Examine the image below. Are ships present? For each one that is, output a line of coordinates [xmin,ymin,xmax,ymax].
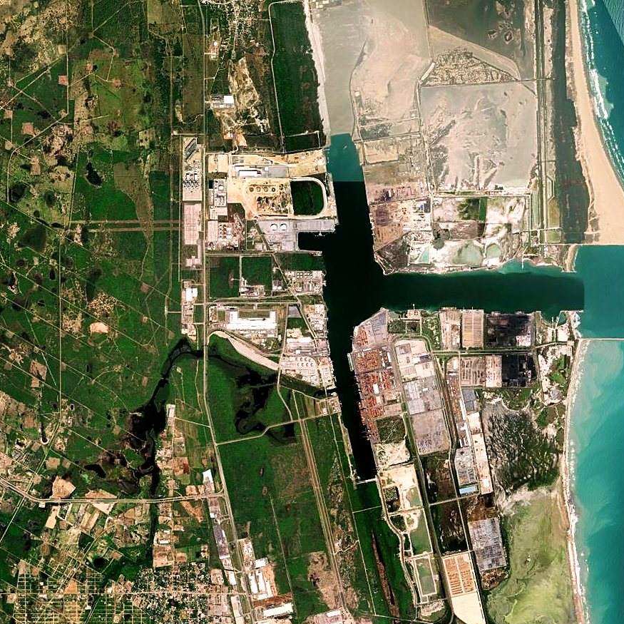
[358,401,365,426]
[348,353,353,371]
